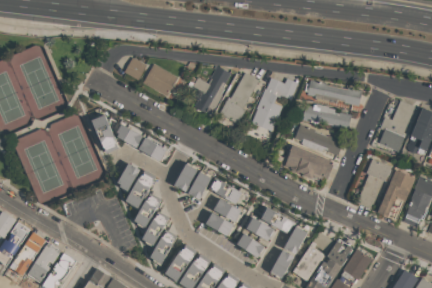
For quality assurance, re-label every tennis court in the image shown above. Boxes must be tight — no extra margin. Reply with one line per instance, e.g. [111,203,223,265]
[16,130,69,202]
[47,114,100,186]
[10,46,63,118]
[0,60,30,130]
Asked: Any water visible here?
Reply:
No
